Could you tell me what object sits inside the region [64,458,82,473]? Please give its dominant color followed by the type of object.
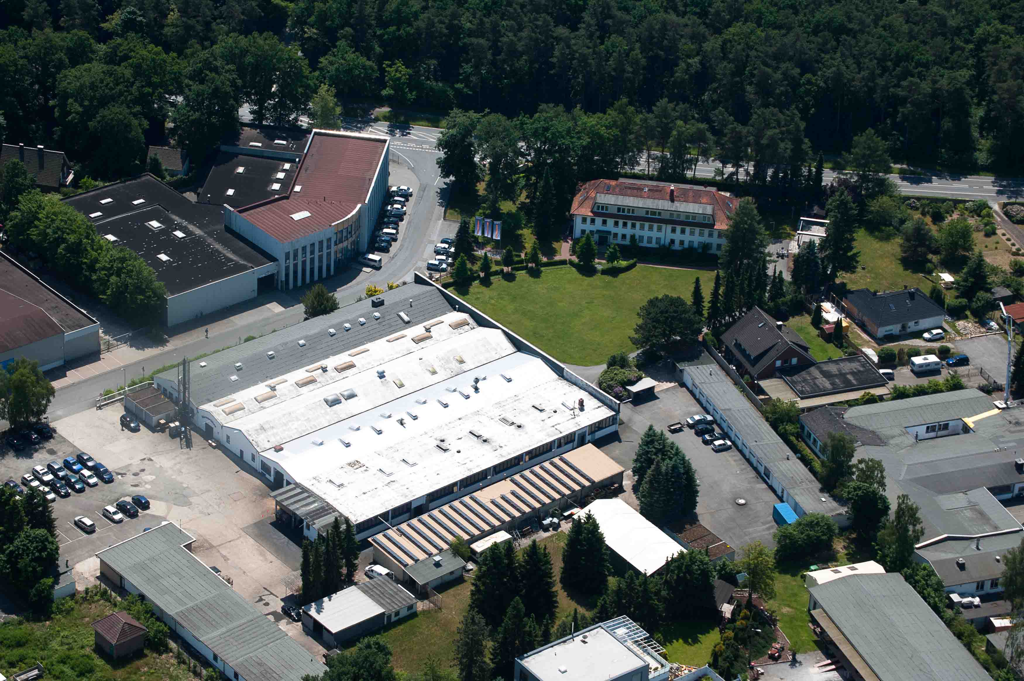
blue car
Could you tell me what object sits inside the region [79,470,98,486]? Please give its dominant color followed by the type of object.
white car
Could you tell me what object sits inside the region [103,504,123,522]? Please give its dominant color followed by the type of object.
white car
